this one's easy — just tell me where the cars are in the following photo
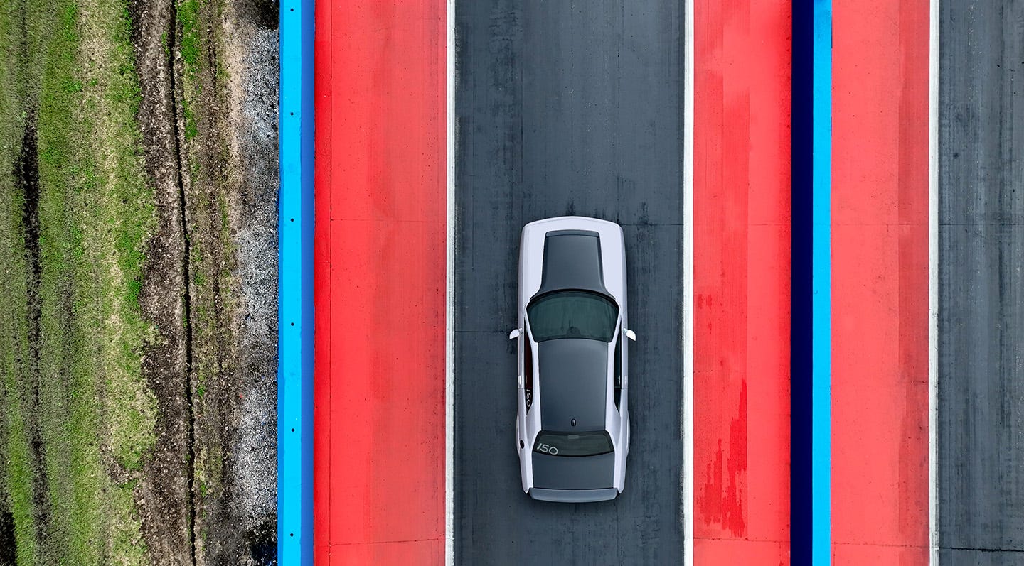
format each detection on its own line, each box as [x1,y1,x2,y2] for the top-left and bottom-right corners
[509,216,638,503]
